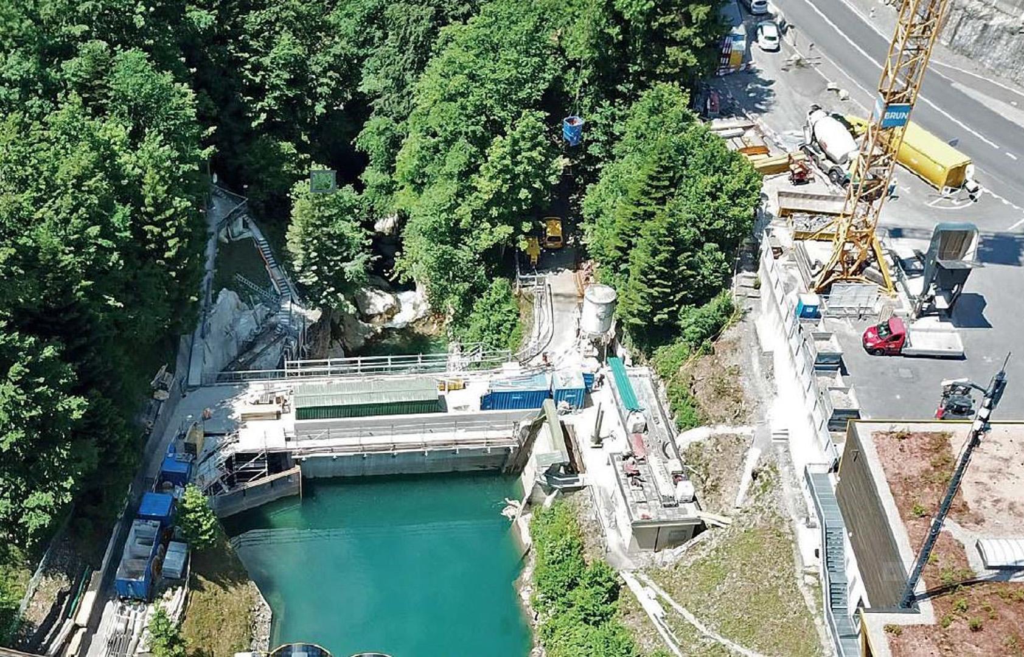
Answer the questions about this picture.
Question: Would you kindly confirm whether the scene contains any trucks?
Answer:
Yes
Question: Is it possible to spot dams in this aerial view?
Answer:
Yes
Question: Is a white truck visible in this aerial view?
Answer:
Yes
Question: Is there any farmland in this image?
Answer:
No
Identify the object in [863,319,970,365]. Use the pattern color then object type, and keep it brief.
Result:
white truck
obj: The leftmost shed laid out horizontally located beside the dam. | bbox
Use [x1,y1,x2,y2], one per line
[291,375,447,420]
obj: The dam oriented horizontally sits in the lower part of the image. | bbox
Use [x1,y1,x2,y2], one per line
[295,407,525,474]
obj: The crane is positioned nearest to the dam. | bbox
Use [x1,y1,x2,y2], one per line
[522,401,580,494]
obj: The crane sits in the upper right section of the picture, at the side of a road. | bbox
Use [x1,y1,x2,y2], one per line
[800,0,945,298]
